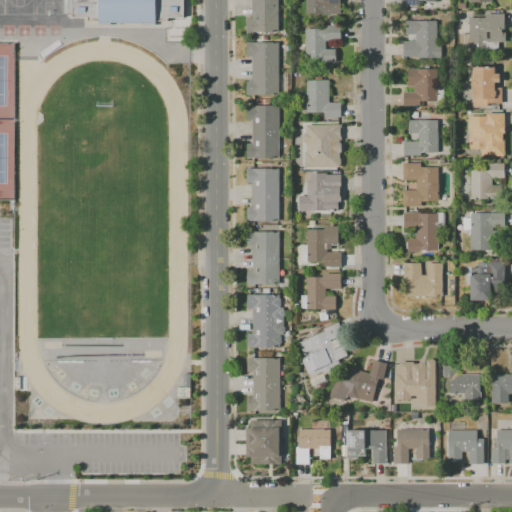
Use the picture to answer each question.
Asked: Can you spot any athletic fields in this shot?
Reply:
Yes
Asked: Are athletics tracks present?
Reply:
Yes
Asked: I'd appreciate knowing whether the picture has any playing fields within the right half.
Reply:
No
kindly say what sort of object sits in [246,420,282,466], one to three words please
building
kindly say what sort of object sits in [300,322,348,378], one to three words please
house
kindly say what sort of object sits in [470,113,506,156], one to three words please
house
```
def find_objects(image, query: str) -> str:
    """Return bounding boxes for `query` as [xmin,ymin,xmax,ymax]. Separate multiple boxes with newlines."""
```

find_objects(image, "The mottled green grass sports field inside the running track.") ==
[38,62,168,337]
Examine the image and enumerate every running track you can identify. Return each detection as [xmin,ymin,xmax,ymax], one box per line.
[19,40,188,424]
